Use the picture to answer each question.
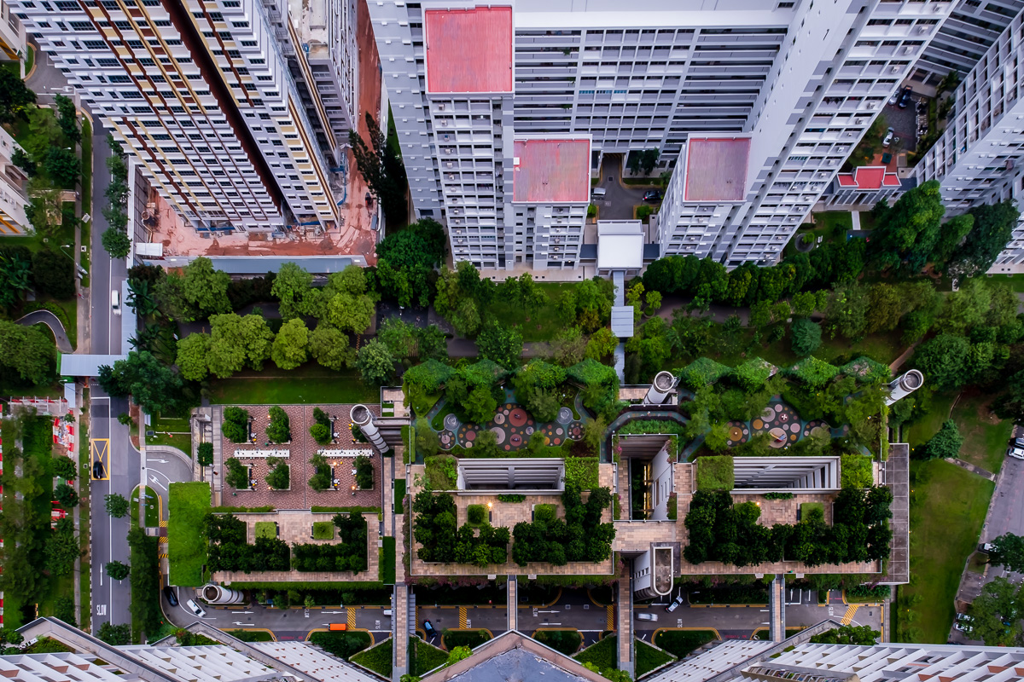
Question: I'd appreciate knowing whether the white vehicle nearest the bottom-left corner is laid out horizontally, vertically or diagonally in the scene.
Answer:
diagonally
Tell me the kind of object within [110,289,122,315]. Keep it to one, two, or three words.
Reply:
vehicle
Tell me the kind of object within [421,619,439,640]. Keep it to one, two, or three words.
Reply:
car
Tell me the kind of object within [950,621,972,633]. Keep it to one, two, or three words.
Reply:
vehicle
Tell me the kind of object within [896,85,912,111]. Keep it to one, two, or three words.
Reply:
car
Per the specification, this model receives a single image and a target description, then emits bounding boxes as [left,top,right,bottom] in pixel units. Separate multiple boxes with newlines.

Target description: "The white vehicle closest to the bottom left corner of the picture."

[185,597,208,618]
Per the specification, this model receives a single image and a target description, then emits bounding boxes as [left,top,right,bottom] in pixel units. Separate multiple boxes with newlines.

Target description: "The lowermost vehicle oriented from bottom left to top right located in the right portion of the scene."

[663,594,684,614]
